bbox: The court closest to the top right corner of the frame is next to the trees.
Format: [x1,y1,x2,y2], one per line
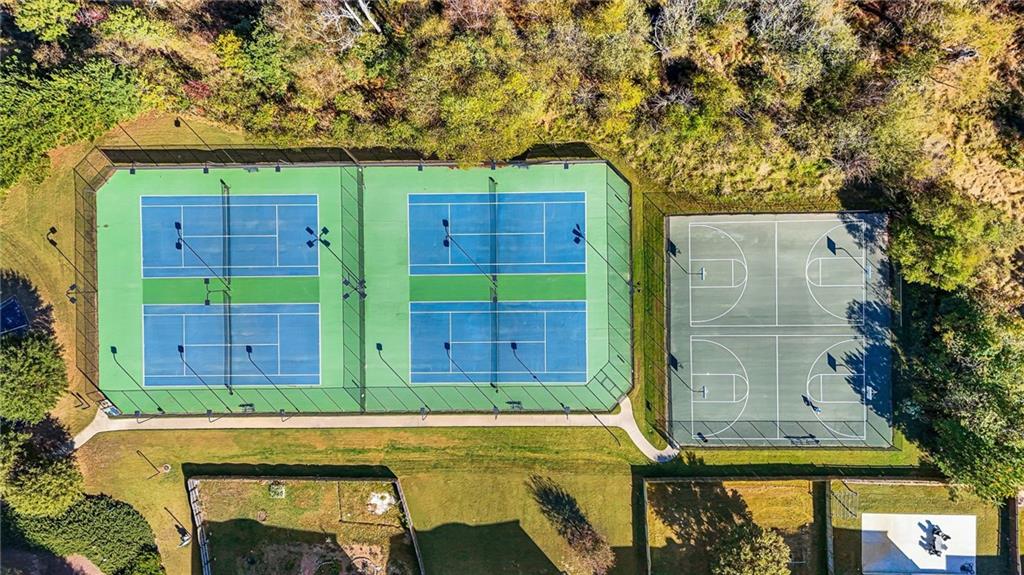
[688,220,866,326]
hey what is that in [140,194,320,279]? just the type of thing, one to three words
tennis court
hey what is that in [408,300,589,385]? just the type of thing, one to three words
tennis court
